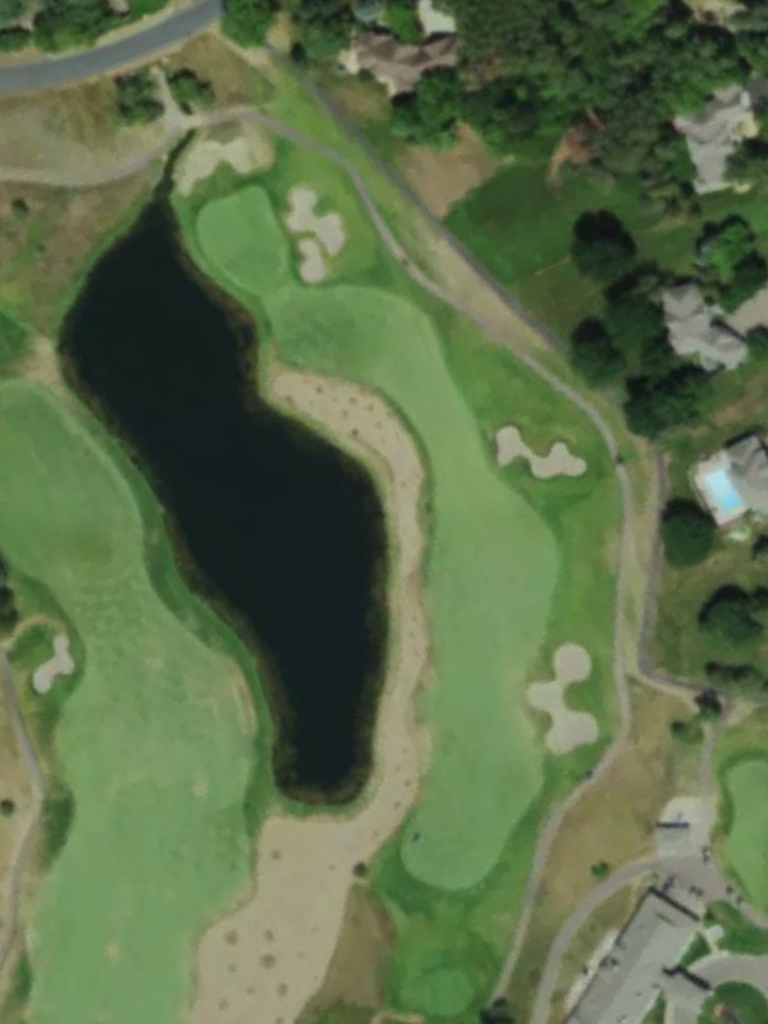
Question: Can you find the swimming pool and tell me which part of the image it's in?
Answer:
right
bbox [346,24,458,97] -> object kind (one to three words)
house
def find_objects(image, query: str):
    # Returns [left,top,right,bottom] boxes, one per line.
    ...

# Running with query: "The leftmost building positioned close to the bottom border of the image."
[562,890,713,1024]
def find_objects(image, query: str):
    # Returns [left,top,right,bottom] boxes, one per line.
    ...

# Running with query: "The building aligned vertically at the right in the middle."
[724,431,768,525]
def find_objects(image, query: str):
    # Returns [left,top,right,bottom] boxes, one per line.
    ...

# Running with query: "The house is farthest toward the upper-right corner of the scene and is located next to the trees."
[676,81,760,195]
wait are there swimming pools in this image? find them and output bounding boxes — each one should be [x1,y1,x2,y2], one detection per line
[705,469,742,512]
